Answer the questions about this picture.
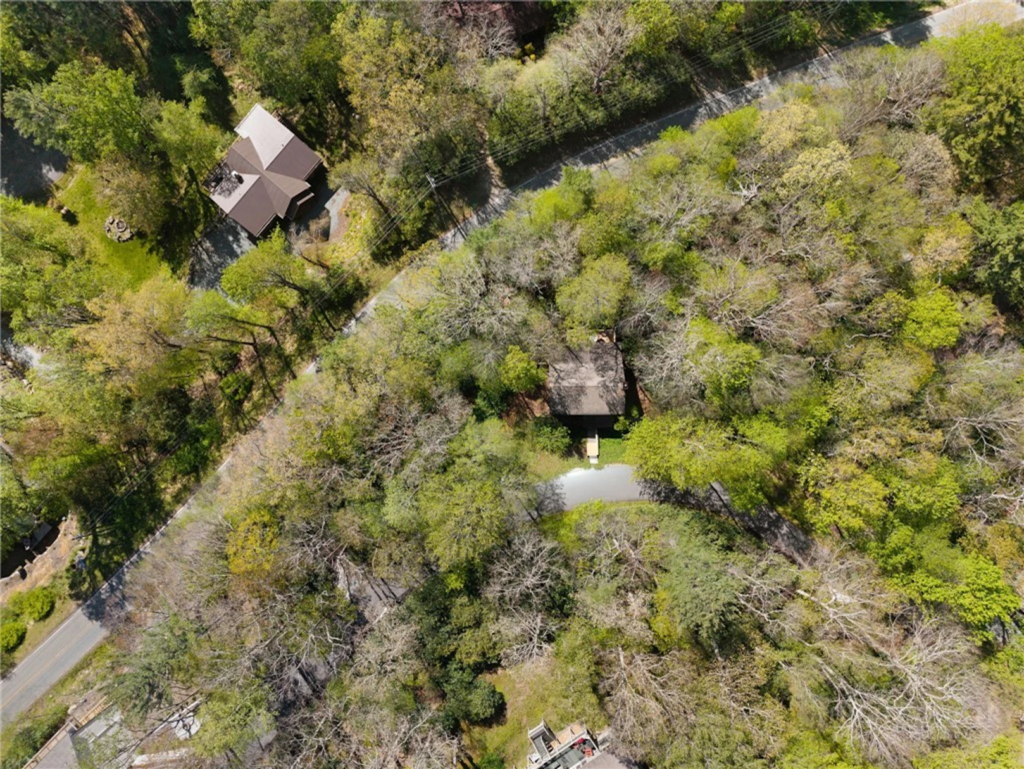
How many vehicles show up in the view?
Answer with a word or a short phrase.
none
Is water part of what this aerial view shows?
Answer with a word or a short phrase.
No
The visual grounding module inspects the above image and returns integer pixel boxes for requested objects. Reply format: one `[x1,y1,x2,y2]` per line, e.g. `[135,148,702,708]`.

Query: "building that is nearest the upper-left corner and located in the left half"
[205,104,326,236]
